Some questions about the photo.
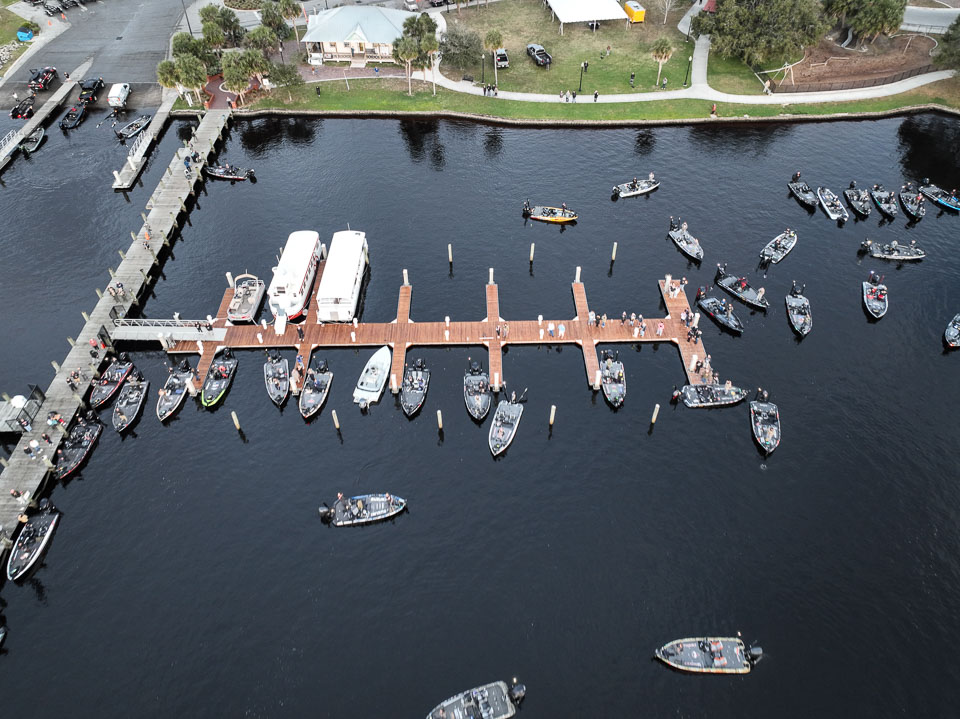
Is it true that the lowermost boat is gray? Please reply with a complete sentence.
Yes, the lowermost boat appears gray.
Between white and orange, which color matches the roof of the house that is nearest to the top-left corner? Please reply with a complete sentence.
The color of the roof of the house that is nearest to the top-left corner is white.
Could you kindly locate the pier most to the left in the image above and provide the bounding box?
[0,82,77,178]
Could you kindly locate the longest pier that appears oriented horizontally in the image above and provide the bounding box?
[162,243,715,400]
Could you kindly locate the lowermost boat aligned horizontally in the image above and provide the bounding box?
[432,682,520,719]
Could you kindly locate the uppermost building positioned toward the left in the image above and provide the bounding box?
[302,0,410,67]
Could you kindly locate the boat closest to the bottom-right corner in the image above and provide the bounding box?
[655,636,759,672]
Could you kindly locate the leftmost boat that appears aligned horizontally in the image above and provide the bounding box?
[202,159,252,180]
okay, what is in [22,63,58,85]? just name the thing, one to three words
car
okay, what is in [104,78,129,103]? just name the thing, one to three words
vehicle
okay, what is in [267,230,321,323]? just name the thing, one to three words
boat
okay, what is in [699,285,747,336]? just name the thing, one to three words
boat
